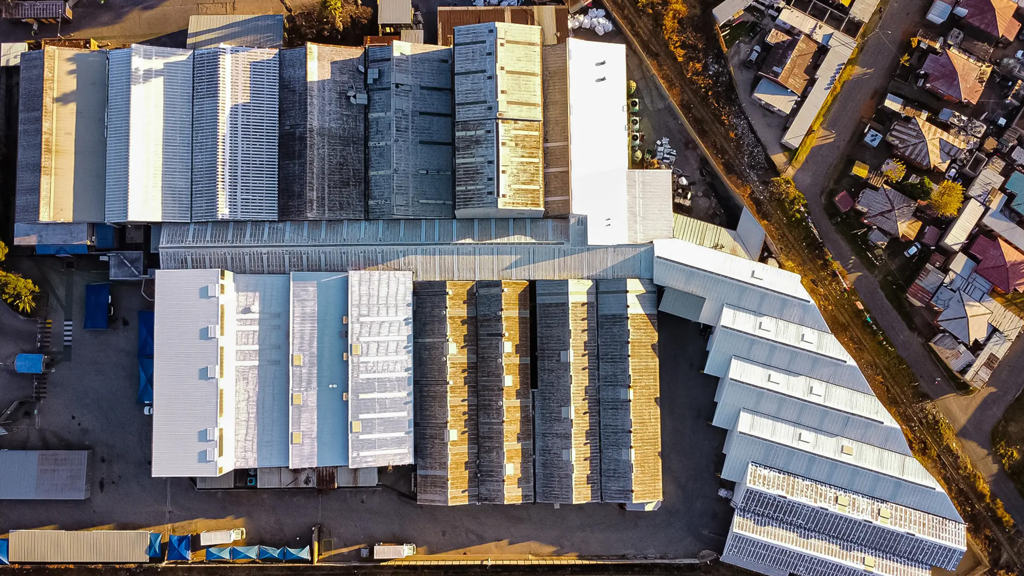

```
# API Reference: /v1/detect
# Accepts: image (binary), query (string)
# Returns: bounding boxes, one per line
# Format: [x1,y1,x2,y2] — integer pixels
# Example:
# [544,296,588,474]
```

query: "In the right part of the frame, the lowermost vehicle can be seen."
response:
[903,240,924,258]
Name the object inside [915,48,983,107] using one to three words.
house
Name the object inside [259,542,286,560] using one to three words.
tent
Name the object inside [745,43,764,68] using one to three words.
car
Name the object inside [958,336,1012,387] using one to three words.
shed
